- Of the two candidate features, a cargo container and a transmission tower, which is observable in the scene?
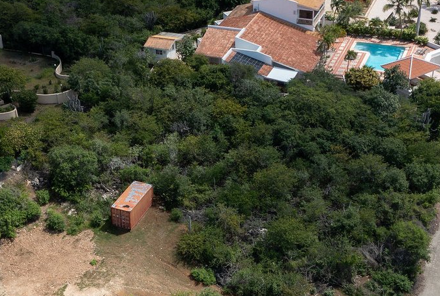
cargo container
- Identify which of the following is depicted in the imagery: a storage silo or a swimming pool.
swimming pool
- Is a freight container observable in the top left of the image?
No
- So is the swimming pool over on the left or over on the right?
right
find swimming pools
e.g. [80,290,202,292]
[353,43,404,69]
